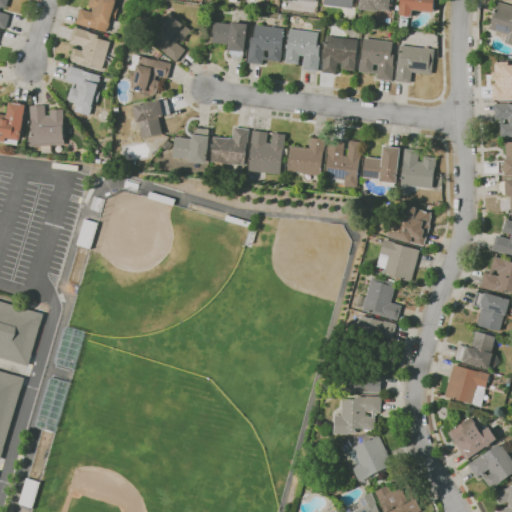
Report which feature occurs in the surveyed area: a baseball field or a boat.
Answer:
baseball field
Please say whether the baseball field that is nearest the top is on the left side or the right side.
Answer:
left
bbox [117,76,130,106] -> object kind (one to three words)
swimming pool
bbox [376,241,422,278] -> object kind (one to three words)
house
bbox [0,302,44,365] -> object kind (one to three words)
building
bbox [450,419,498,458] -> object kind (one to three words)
house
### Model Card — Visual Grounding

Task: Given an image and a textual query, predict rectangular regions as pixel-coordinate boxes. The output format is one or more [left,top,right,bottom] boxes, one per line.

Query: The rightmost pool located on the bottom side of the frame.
[340,487,363,506]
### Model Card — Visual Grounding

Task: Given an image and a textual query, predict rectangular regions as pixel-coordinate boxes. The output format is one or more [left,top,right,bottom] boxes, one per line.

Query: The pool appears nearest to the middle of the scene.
[366,180,390,195]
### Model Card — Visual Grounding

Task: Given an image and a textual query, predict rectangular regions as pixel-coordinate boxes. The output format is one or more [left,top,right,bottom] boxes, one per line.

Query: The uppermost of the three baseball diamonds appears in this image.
[76,190,254,338]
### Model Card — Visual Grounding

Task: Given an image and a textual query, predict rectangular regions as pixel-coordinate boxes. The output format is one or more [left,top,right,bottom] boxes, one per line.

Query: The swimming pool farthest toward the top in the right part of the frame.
[411,12,431,28]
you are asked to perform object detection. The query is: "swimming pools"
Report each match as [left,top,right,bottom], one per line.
[366,180,390,195]
[340,487,363,506]
[411,12,431,28]
[300,496,326,512]
[117,76,130,106]
[492,38,512,54]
